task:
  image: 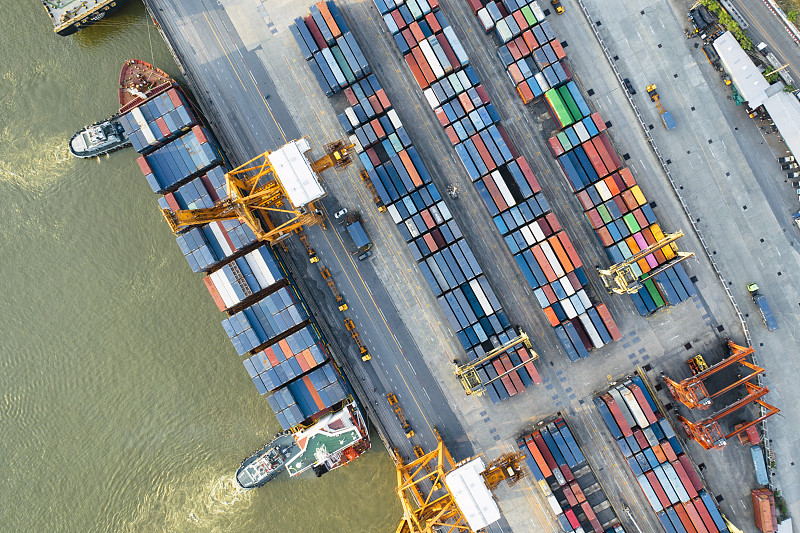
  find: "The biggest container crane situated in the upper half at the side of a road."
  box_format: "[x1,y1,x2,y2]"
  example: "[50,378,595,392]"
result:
[151,132,363,256]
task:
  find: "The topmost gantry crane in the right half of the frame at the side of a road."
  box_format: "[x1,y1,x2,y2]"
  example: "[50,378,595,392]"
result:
[592,228,694,294]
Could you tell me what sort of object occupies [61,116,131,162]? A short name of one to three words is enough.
boat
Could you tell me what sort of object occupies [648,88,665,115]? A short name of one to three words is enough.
vehicle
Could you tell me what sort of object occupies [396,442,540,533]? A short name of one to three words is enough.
container crane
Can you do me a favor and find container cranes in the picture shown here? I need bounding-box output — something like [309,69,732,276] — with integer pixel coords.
[671,370,782,449]
[453,322,541,395]
[396,442,540,533]
[151,132,363,256]
[592,228,694,294]
[657,333,766,408]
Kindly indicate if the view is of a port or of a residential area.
port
